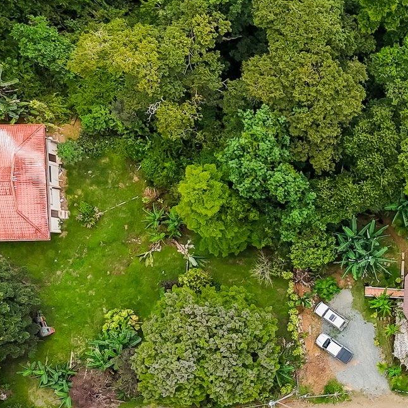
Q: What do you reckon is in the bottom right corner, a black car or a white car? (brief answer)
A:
white car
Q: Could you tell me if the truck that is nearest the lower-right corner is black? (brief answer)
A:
No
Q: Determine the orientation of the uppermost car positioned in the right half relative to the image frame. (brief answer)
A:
diagonally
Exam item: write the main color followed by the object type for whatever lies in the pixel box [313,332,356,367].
white truck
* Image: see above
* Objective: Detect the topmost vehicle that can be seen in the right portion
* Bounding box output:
[312,302,350,333]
